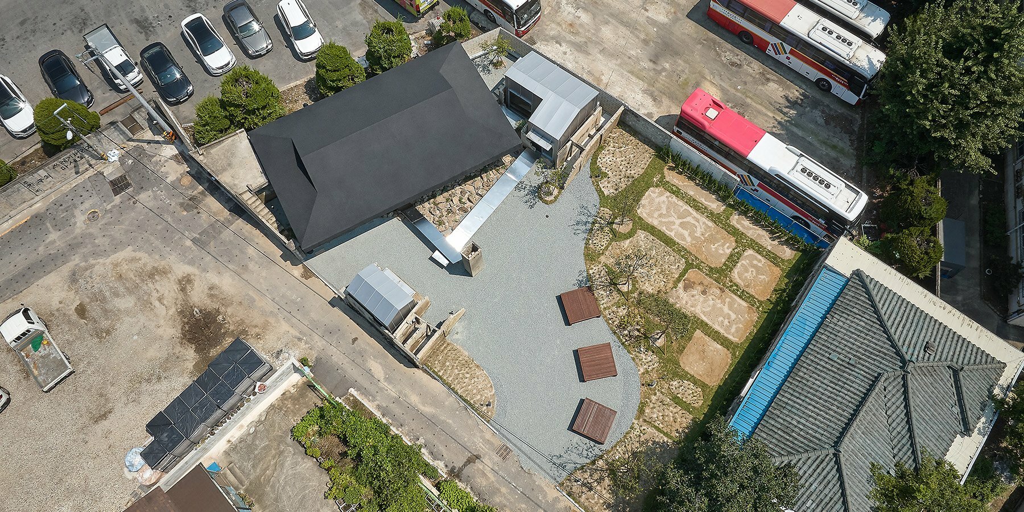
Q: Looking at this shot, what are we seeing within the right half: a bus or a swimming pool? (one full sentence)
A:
It is a bus that can be seen within the right half.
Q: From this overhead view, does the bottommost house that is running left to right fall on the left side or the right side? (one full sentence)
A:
The bottommost house that is running left to right sits on the left side.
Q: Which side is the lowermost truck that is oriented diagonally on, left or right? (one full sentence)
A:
You can find the lowermost truck that is oriented diagonally on the left side of the picture.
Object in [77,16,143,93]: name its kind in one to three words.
truck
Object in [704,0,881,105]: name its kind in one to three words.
bus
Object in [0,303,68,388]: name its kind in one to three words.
truck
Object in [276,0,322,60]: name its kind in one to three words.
car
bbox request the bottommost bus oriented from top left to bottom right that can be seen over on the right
[672,87,870,238]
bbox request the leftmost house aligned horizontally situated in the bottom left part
[123,461,240,512]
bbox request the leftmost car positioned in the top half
[0,70,34,140]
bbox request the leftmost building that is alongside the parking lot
[248,37,522,253]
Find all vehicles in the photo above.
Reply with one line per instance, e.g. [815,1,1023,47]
[179,9,235,78]
[77,16,143,93]
[37,42,93,105]
[672,87,870,238]
[0,303,68,388]
[794,0,895,48]
[136,38,191,109]
[220,0,271,60]
[469,0,538,29]
[276,0,322,60]
[0,70,34,140]
[704,0,881,105]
